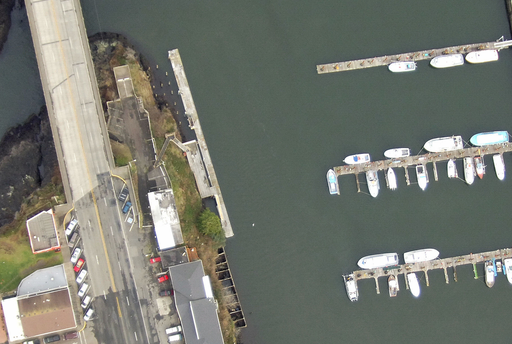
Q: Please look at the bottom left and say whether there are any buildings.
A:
Yes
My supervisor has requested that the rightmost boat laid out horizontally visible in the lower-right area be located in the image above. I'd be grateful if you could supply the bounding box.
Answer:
[403,249,440,263]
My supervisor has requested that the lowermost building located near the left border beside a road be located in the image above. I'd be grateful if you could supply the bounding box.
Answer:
[2,288,77,344]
